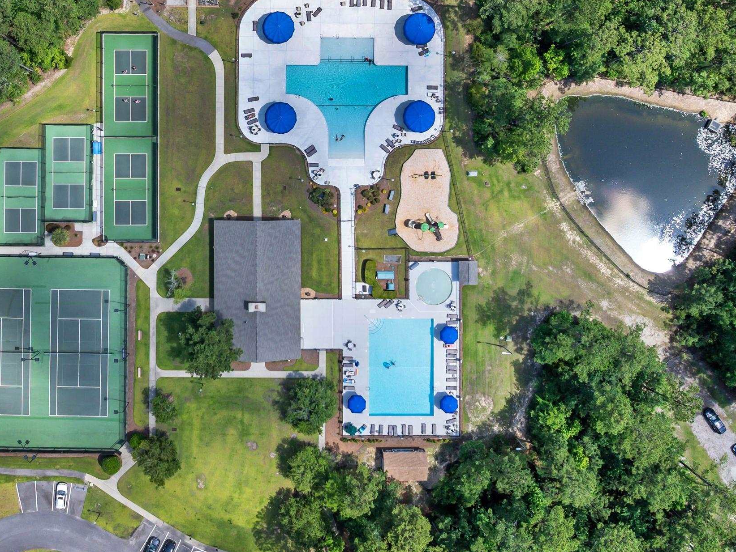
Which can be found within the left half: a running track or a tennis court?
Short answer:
tennis court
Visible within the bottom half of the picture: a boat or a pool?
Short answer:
pool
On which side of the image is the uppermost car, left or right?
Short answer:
right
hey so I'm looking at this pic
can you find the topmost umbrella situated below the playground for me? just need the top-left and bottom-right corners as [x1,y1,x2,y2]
[440,327,457,343]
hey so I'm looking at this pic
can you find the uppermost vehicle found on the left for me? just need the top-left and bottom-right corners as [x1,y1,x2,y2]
[55,482,69,508]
